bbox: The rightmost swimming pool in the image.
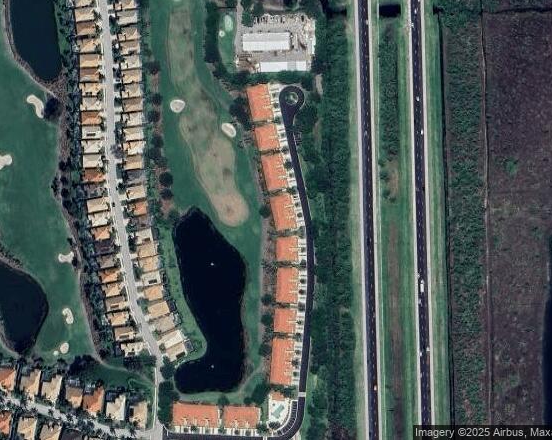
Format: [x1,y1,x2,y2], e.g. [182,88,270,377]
[269,394,289,425]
